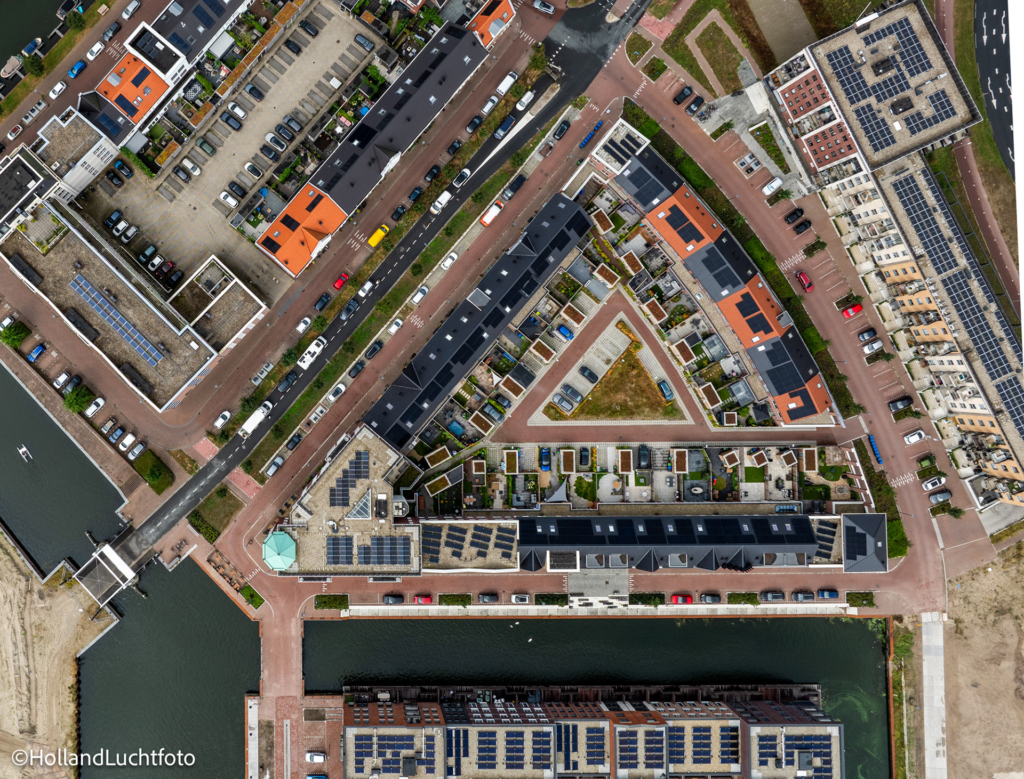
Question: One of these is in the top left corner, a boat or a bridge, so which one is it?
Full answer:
What appears in the top left corner is a boat.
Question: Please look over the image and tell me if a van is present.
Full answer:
Yes, there's a van here.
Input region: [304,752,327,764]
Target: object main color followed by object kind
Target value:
white vehicle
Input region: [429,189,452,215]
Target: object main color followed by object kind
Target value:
white vehicle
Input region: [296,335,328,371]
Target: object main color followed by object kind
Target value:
white van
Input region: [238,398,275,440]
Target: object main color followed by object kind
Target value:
white truck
